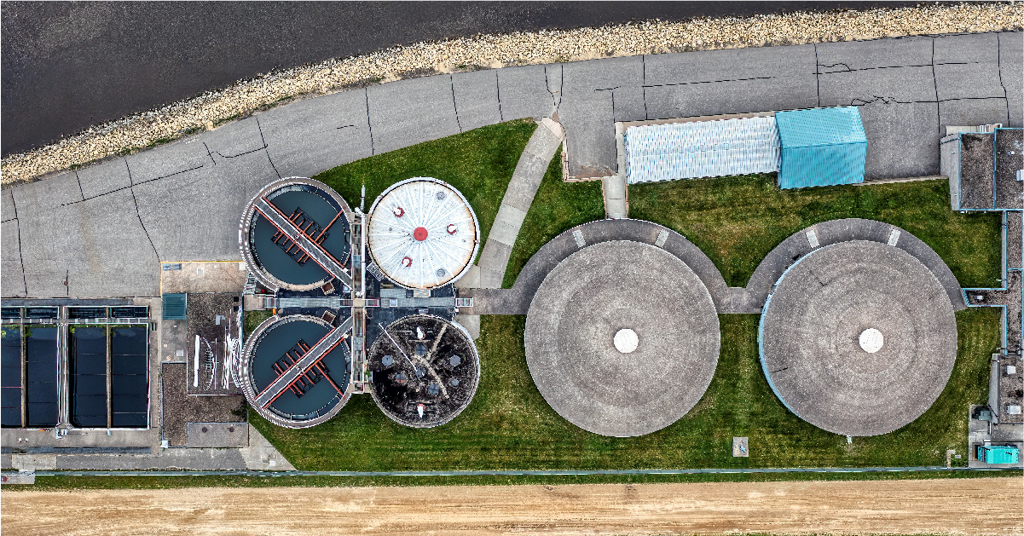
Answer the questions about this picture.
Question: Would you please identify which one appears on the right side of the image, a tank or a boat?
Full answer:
What appears on the right side of the image is a tank.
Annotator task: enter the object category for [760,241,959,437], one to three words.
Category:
storage tank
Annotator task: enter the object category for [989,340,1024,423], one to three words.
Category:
building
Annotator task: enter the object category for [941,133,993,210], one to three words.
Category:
building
